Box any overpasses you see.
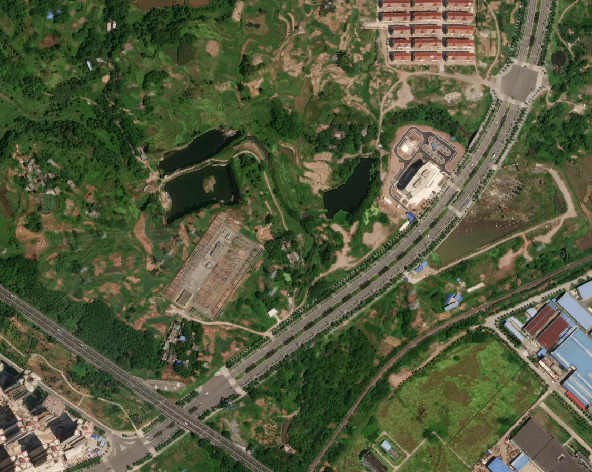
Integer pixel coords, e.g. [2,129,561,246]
[151,393,213,440]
